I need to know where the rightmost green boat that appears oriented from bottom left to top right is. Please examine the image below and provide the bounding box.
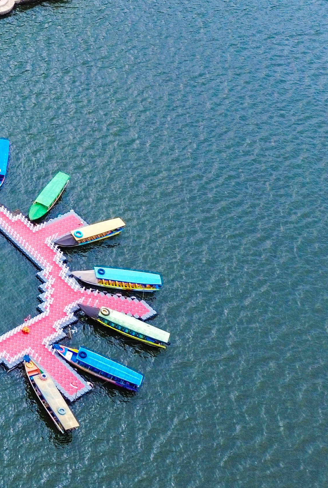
[32,164,73,220]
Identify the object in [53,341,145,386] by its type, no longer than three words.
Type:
boat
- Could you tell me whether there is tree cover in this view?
No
